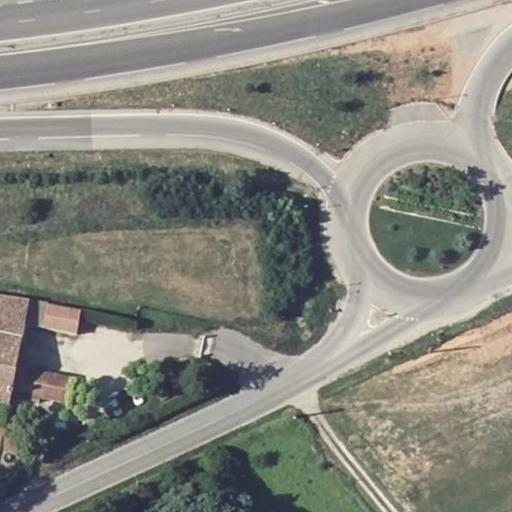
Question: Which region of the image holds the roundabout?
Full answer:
You can find the roundabout in the right area of the picture.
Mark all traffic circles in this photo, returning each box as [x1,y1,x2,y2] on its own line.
[322,112,512,368]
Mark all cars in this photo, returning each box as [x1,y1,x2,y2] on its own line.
[109,392,122,416]
[133,390,144,405]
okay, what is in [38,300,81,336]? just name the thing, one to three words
shed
